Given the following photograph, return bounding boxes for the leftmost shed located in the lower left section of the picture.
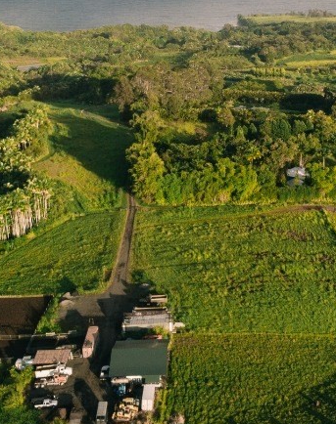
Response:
[33,350,73,371]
